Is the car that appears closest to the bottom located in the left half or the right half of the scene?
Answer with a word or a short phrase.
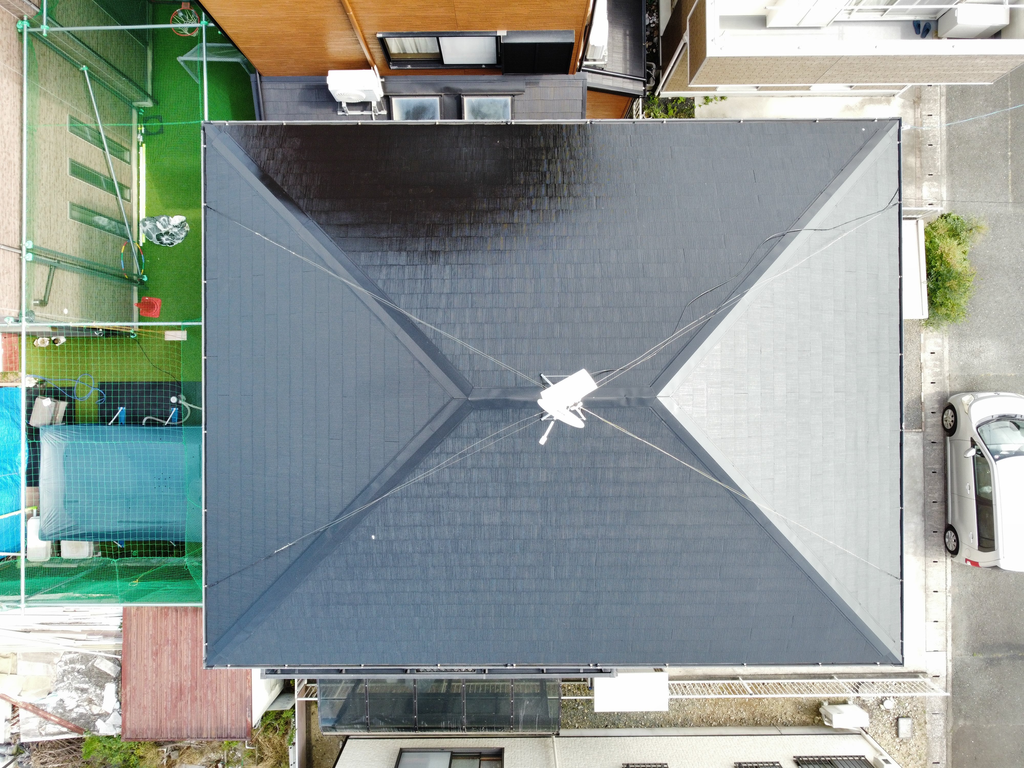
right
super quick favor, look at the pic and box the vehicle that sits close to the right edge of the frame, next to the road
[941,391,1024,572]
